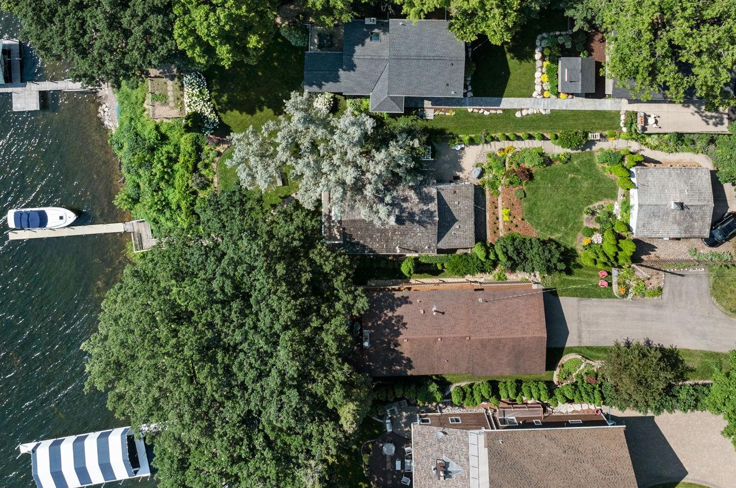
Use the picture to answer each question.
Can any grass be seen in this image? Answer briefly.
Yes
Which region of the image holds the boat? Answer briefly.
left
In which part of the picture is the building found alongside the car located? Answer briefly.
right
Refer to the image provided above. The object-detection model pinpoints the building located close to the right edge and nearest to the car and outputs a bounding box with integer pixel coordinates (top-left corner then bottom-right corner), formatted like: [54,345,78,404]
[630,166,715,239]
